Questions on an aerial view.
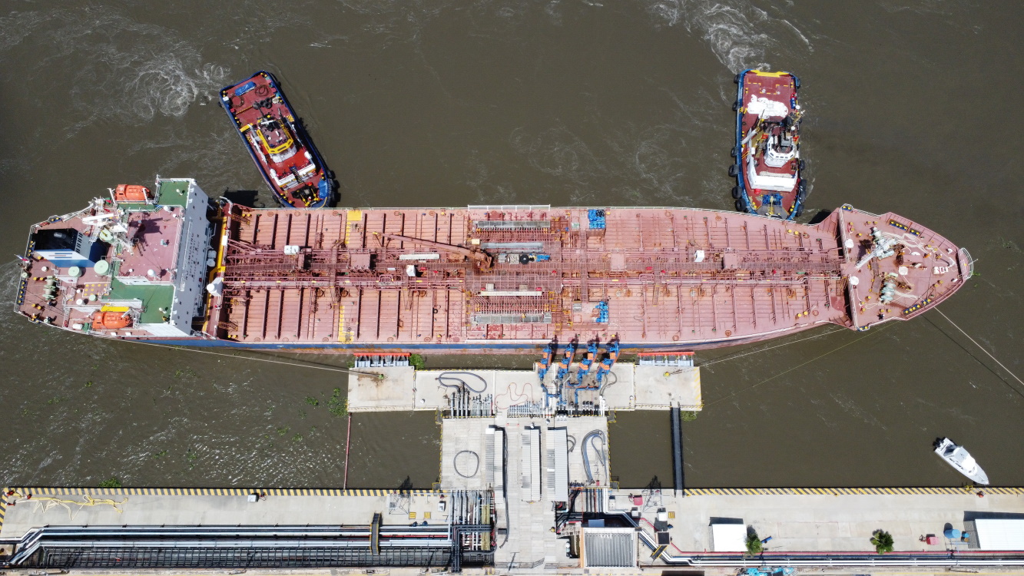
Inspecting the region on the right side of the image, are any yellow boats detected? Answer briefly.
No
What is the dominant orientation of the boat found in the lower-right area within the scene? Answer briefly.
diagonally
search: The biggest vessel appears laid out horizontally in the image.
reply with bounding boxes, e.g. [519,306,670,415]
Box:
[11,178,979,353]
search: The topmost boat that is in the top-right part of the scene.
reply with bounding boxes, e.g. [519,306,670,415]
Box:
[729,69,808,224]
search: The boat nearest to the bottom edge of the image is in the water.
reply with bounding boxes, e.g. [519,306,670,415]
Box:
[930,436,989,487]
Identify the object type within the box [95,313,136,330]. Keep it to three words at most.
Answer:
boat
